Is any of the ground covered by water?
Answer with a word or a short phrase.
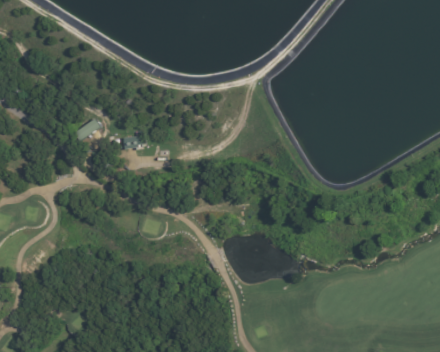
Yes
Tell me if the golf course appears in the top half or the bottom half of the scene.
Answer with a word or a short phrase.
bottom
